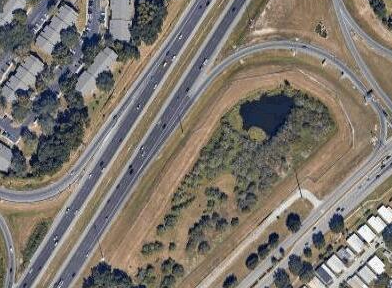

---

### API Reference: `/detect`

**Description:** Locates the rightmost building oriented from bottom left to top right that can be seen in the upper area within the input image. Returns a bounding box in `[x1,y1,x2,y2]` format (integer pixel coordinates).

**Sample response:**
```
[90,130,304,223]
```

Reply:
[77,52,115,98]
